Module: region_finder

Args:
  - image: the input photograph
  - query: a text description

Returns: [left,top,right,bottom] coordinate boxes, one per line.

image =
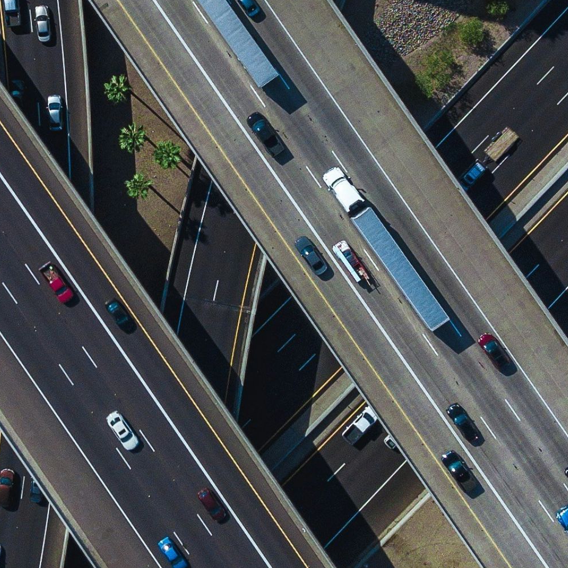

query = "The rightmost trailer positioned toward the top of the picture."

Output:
[481,126,519,164]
